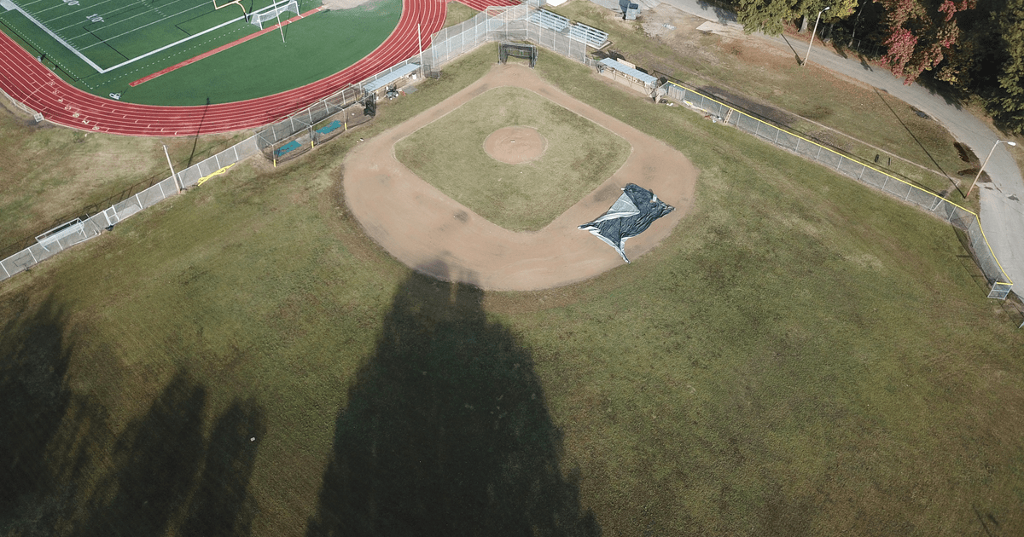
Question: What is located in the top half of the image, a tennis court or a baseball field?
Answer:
baseball field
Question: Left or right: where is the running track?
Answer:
left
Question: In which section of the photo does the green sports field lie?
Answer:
top left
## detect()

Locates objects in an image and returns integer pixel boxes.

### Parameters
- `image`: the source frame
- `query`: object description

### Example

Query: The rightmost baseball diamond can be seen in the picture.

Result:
[341,62,698,292]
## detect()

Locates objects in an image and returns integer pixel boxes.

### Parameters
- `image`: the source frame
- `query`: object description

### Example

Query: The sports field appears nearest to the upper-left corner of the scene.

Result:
[0,0,402,105]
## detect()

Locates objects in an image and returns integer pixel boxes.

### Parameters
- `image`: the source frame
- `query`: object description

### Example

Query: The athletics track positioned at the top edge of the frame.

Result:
[0,0,529,138]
